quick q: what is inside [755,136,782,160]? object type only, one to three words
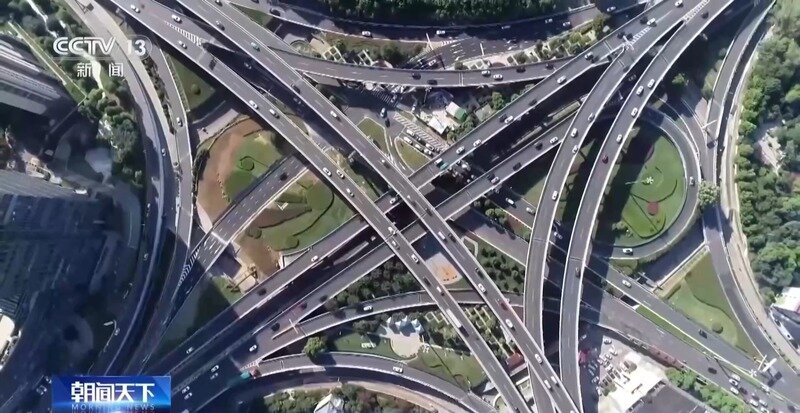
building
